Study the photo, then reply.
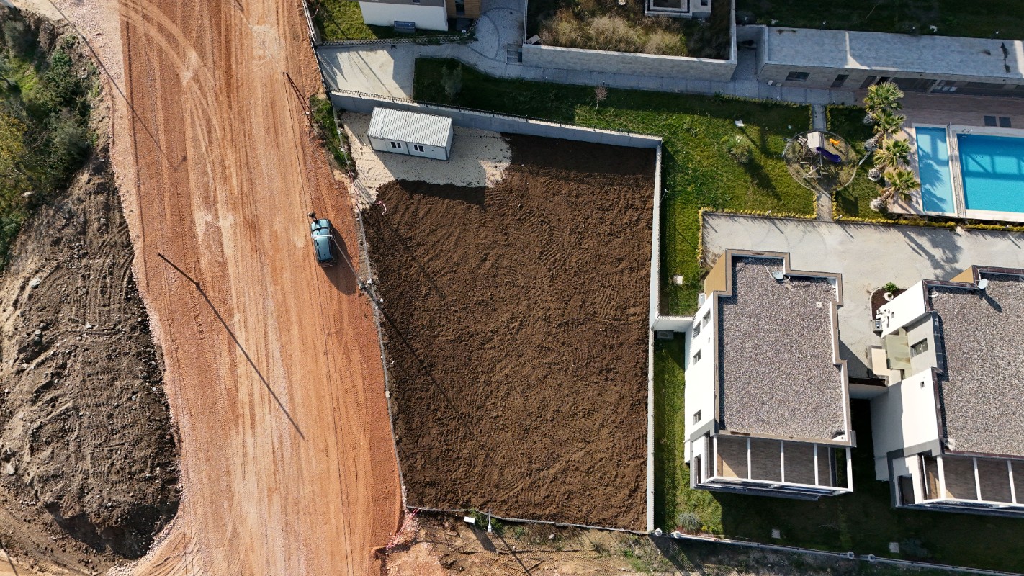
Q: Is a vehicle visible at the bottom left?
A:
No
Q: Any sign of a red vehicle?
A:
No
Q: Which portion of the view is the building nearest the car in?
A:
top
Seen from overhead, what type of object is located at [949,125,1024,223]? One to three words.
swimming pool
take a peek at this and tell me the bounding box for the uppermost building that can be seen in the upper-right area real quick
[756,26,1024,98]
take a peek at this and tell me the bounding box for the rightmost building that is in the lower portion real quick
[865,265,1024,517]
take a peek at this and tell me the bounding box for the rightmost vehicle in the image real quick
[306,219,339,268]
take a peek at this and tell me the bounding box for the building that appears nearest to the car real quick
[367,105,453,160]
